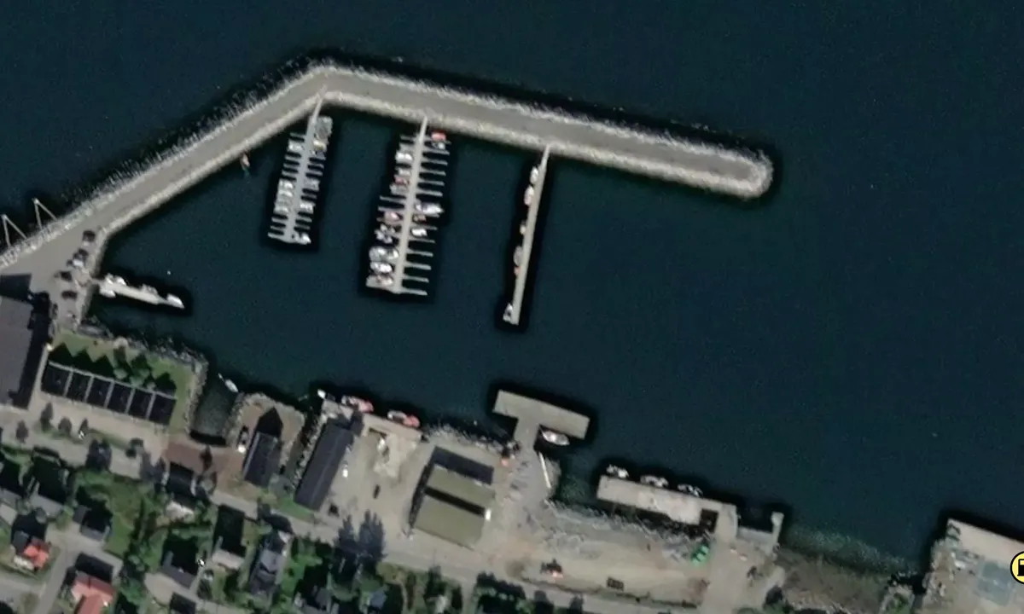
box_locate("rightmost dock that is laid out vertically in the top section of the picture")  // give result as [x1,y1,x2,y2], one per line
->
[511,146,549,325]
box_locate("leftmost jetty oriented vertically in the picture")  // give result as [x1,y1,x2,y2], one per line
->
[268,95,323,243]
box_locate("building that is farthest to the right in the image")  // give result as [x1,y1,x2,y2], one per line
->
[410,457,494,550]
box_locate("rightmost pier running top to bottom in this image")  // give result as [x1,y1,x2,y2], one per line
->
[770,512,784,551]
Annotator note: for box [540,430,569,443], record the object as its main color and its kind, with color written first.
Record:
white boat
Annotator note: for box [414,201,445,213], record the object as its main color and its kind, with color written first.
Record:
white boat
